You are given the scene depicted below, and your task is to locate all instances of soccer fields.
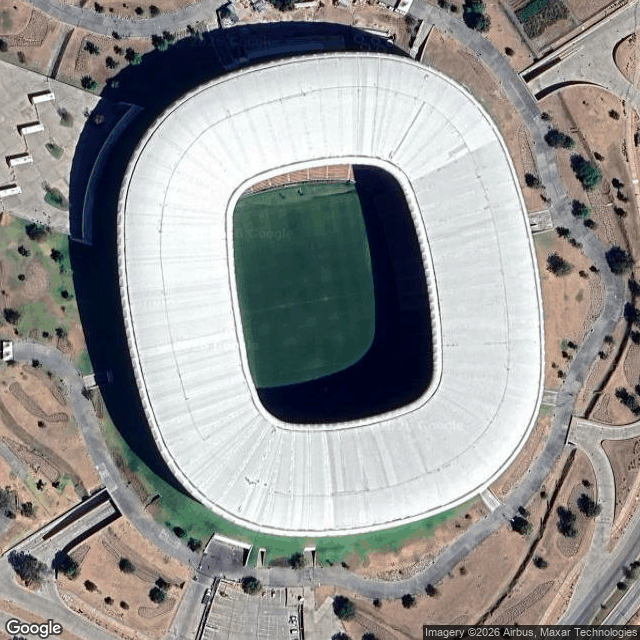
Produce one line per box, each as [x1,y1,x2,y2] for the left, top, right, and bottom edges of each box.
[235,191,384,412]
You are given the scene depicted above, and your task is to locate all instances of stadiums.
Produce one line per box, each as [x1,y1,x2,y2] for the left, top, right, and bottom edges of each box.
[116,51,545,537]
